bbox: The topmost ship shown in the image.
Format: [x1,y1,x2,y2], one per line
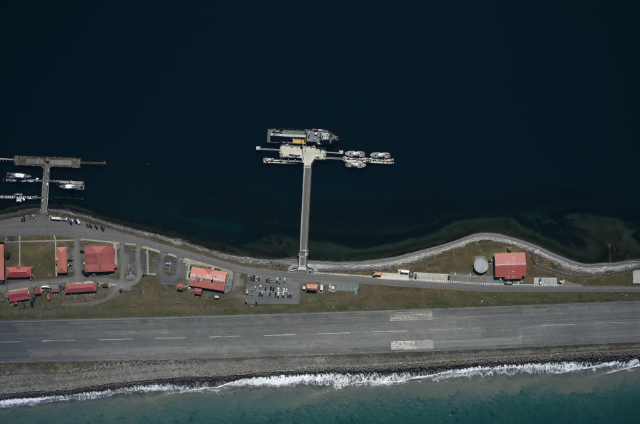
[268,129,339,144]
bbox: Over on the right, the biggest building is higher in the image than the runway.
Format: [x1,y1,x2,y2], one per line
[494,252,526,279]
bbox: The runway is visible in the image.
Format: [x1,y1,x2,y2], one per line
[0,301,640,363]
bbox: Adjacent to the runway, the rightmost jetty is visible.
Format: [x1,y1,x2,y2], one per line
[256,145,343,273]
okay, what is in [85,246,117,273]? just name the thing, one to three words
building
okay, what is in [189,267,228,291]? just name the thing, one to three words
house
